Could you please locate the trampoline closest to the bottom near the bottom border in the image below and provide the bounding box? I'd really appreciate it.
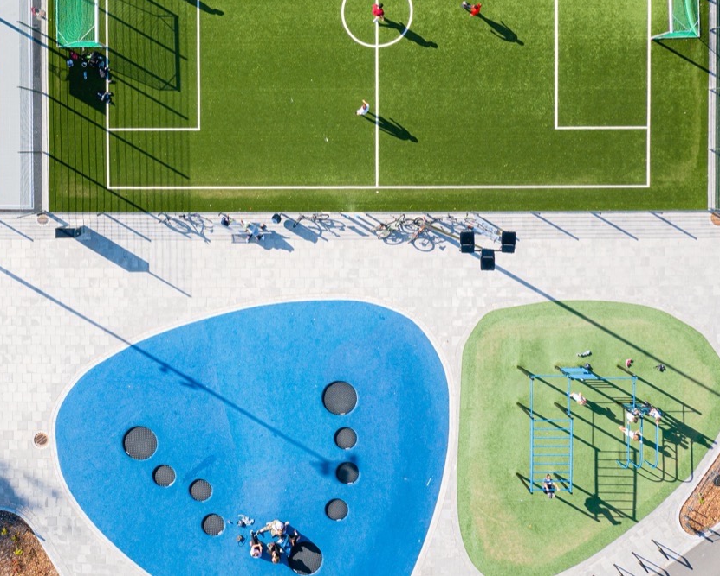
[287,539,323,576]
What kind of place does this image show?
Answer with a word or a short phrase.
sports ground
